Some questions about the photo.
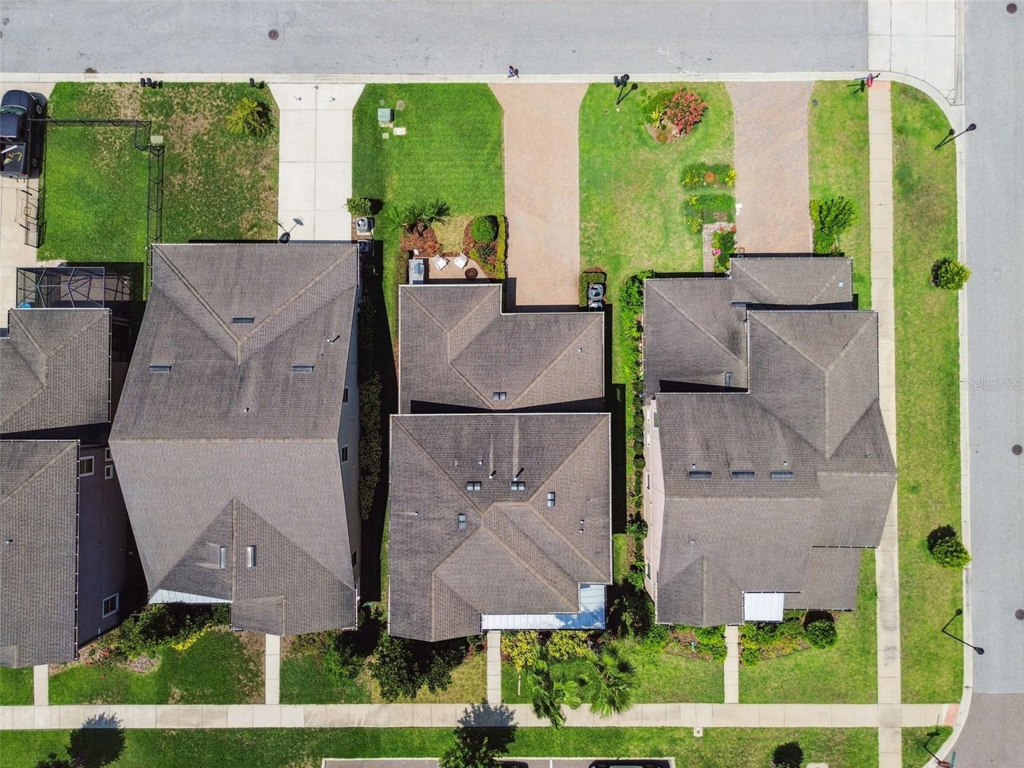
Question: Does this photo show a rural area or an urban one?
urban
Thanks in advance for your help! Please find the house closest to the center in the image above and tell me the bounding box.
[386,283,612,641]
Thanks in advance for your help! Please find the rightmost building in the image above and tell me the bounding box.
[642,256,897,629]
